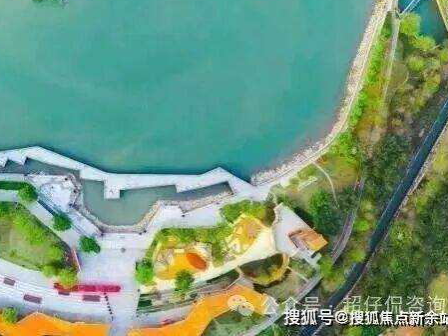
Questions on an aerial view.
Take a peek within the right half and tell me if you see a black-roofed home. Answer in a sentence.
No, the scene shows no black-roofed home within the right half.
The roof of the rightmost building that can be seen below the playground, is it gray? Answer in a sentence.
No, the color of the roof of the rightmost building that can be seen below the playground is orange.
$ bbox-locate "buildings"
[0,311,110,336]
[125,285,268,336]
[289,228,328,257]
